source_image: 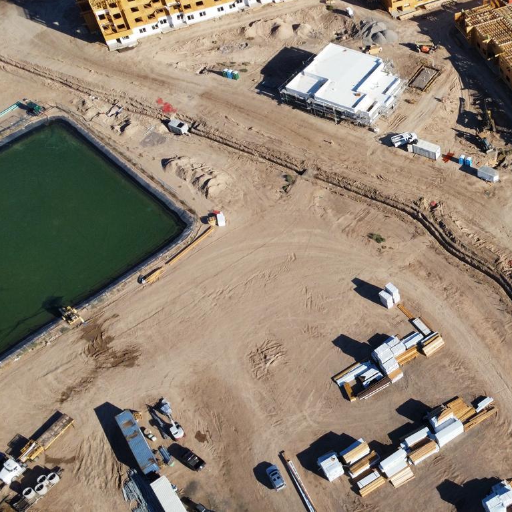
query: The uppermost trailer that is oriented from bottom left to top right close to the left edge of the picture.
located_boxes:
[17,413,77,468]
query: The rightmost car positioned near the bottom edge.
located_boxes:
[263,463,290,494]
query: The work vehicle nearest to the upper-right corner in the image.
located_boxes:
[405,39,438,56]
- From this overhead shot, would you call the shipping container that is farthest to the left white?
No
